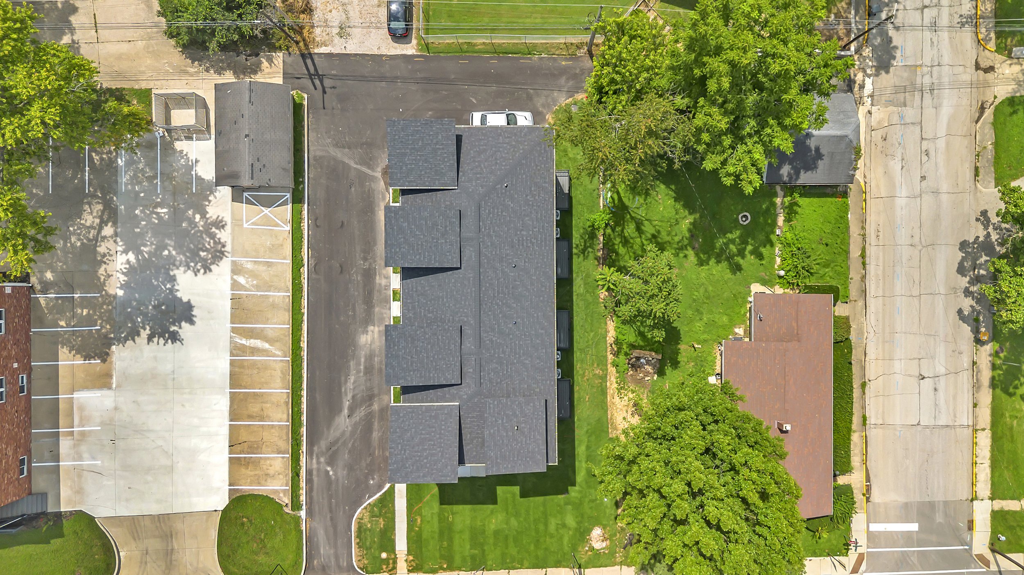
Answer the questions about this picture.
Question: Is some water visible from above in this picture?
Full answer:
No, there's no water in this view.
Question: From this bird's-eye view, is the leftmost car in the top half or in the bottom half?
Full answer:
It is in the top half that the leftmost car appears.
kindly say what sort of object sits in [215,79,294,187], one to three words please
building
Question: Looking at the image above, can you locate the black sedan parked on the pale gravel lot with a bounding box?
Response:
[387,0,411,39]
